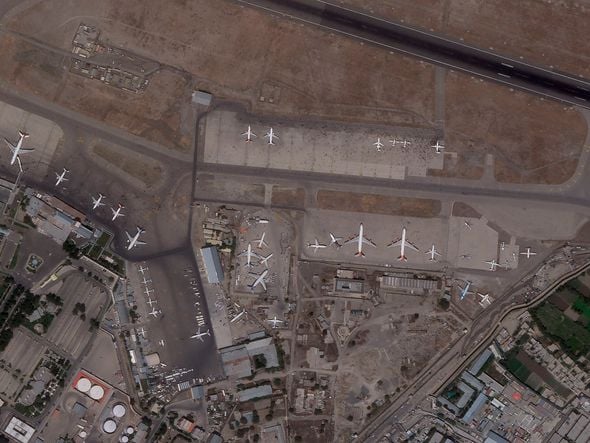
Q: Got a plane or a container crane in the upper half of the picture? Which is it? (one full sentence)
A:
The one visible in the upper half of the picture is a plane.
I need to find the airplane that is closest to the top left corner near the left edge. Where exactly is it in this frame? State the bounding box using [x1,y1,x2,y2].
[3,132,33,164]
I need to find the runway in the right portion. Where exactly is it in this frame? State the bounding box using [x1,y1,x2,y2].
[239,0,590,108]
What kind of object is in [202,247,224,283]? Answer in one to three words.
hangar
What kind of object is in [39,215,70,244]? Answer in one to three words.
building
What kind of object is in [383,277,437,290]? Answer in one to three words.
shed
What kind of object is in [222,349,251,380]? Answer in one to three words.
hangar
